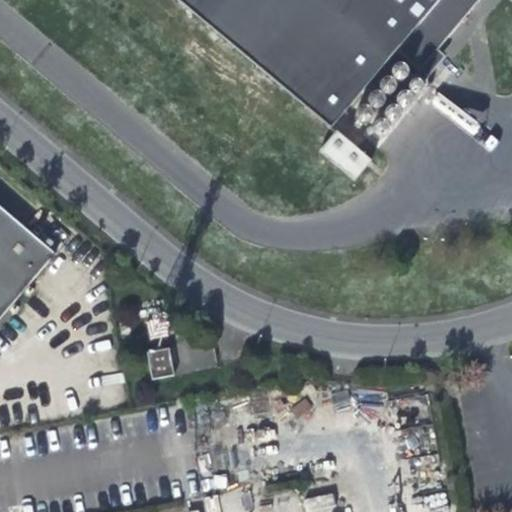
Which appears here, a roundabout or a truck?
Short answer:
truck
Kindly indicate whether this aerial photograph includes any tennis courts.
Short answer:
No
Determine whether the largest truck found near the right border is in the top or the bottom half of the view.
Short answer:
top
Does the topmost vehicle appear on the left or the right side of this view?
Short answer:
right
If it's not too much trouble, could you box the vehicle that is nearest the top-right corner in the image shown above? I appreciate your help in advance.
[441,56,462,77]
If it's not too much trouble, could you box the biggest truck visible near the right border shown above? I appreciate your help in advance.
[431,96,496,152]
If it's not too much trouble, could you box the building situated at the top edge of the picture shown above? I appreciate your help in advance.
[176,0,444,129]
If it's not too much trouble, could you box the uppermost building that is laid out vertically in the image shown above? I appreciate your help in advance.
[0,206,54,318]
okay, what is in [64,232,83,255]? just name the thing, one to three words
car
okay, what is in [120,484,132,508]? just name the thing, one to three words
vehicle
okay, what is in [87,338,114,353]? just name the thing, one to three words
vehicle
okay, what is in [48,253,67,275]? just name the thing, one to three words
car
